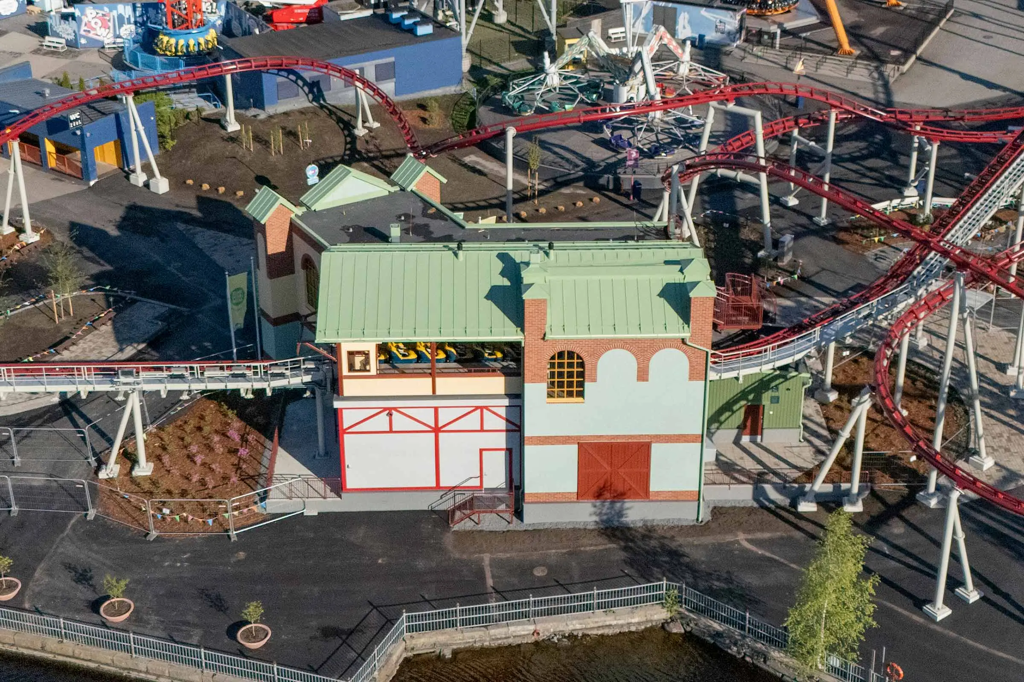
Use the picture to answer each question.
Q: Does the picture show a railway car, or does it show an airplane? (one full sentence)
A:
I can see a railway car in this picture.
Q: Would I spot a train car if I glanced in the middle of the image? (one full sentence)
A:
Yes, a train car is visible in the middle of the image.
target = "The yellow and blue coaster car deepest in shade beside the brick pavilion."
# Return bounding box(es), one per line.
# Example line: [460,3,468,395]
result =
[479,342,514,366]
